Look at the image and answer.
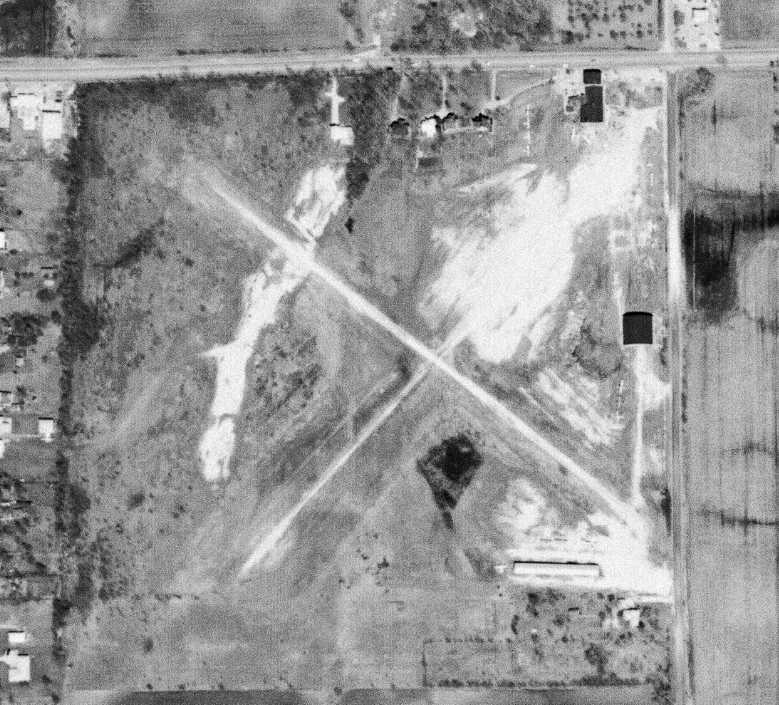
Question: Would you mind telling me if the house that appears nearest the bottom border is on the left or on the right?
left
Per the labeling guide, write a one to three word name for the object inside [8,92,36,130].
building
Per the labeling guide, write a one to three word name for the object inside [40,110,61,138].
building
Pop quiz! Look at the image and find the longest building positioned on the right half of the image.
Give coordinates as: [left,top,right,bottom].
[514,563,601,578]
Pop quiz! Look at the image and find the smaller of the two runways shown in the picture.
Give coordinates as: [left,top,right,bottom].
[243,354,441,572]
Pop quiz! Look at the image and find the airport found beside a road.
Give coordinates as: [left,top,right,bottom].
[58,69,673,691]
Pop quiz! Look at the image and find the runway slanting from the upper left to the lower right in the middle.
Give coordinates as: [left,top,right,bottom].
[215,185,642,513]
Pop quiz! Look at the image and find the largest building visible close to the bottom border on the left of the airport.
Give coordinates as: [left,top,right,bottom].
[8,650,30,683]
